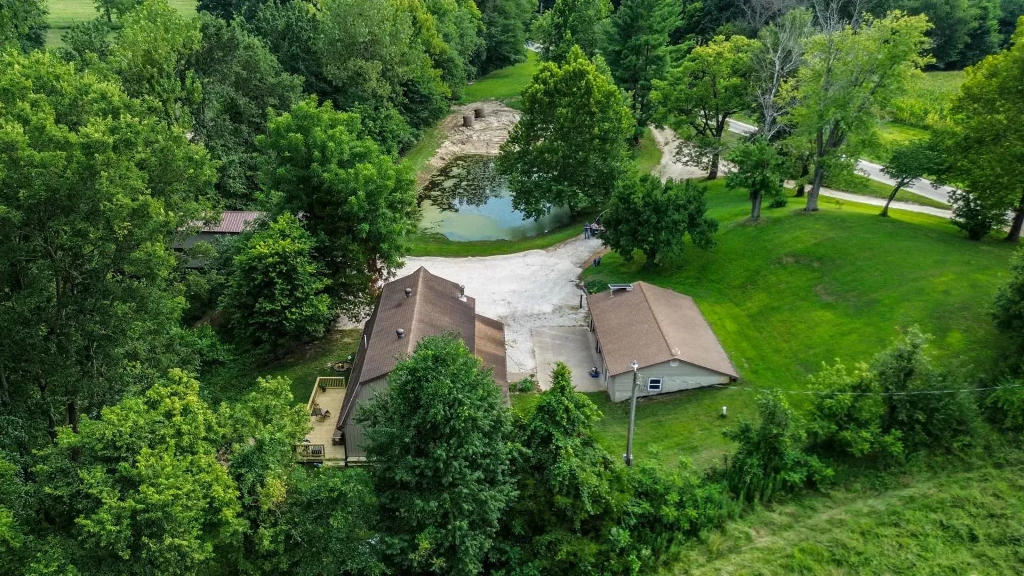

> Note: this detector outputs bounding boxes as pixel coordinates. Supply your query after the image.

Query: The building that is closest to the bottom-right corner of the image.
[587,279,738,404]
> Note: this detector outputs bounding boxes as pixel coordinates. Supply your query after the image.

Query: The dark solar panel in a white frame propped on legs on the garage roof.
[612,283,635,300]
